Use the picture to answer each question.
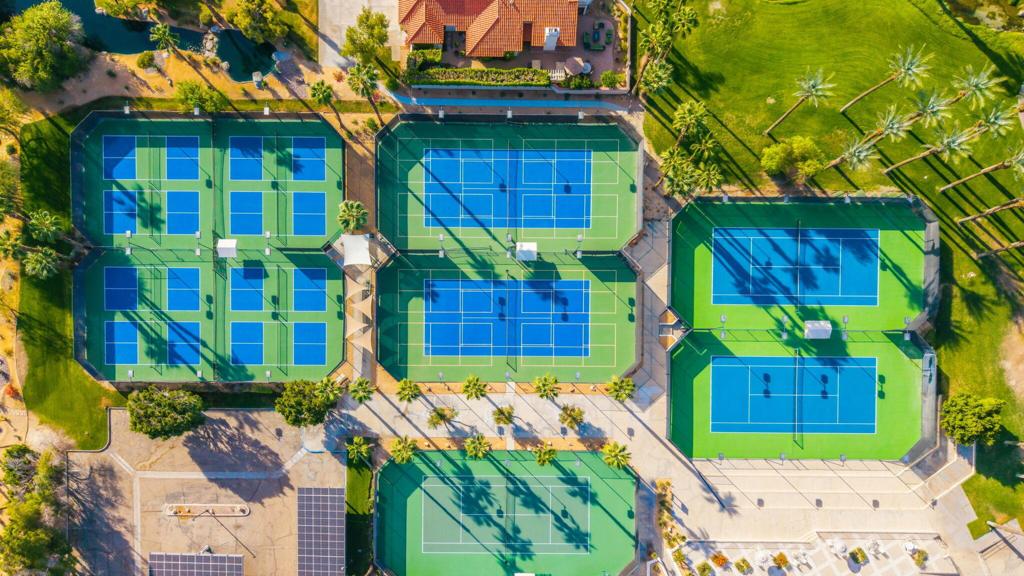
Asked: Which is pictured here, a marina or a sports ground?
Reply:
sports ground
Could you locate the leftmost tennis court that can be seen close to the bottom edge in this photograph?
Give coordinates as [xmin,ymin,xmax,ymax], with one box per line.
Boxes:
[377,449,636,576]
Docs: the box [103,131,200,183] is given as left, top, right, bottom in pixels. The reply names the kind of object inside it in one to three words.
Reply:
sports court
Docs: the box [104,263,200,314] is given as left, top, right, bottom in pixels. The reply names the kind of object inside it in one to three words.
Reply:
sports court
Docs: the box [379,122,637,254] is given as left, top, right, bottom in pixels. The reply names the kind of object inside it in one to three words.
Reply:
tennis court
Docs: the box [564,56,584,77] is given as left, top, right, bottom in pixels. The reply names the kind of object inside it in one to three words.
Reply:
umbrella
